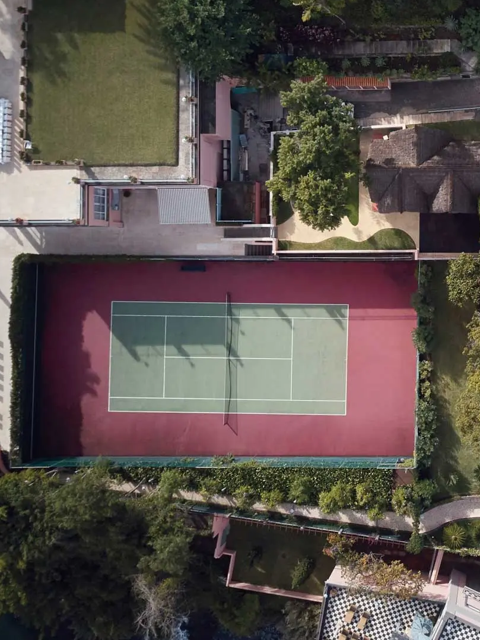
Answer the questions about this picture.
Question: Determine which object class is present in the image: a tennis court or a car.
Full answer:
Visible in the photo is a tennis court.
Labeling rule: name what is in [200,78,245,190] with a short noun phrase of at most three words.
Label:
house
